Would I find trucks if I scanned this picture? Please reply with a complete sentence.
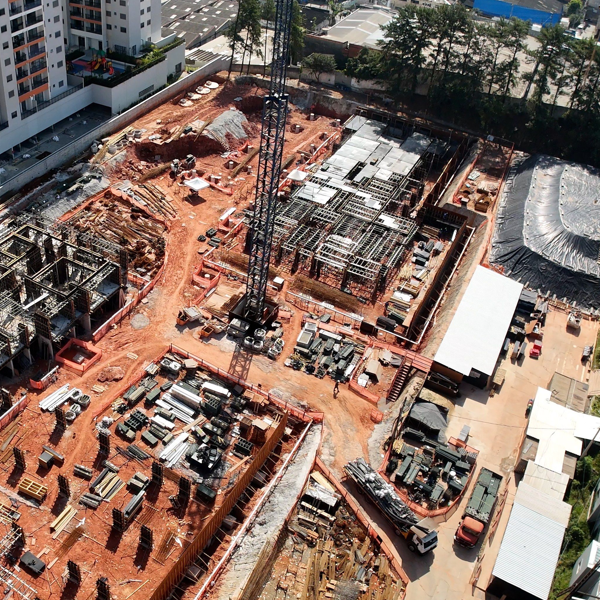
Yes, you can see a truck in this photo.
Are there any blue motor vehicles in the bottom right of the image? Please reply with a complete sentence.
No, I see no blue motor vehicle in the bottom right of the image.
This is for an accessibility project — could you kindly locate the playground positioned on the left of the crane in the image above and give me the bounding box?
[67,39,132,79]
